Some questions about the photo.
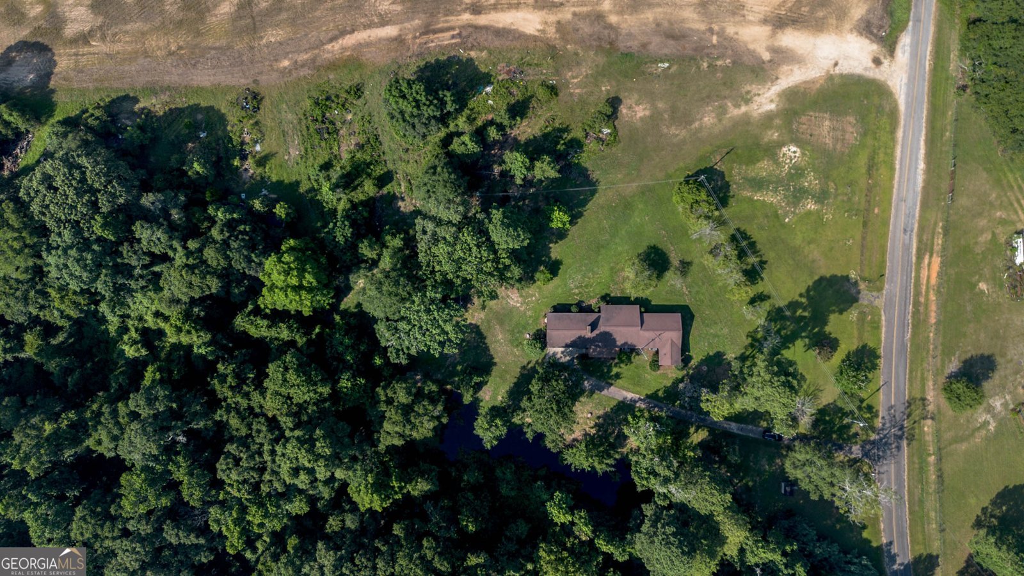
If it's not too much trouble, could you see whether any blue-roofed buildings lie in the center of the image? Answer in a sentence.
No, no blue-roofed building is visible in the center of the image.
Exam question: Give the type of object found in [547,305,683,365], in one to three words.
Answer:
house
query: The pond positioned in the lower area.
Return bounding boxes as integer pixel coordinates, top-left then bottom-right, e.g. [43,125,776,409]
[441,391,636,510]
